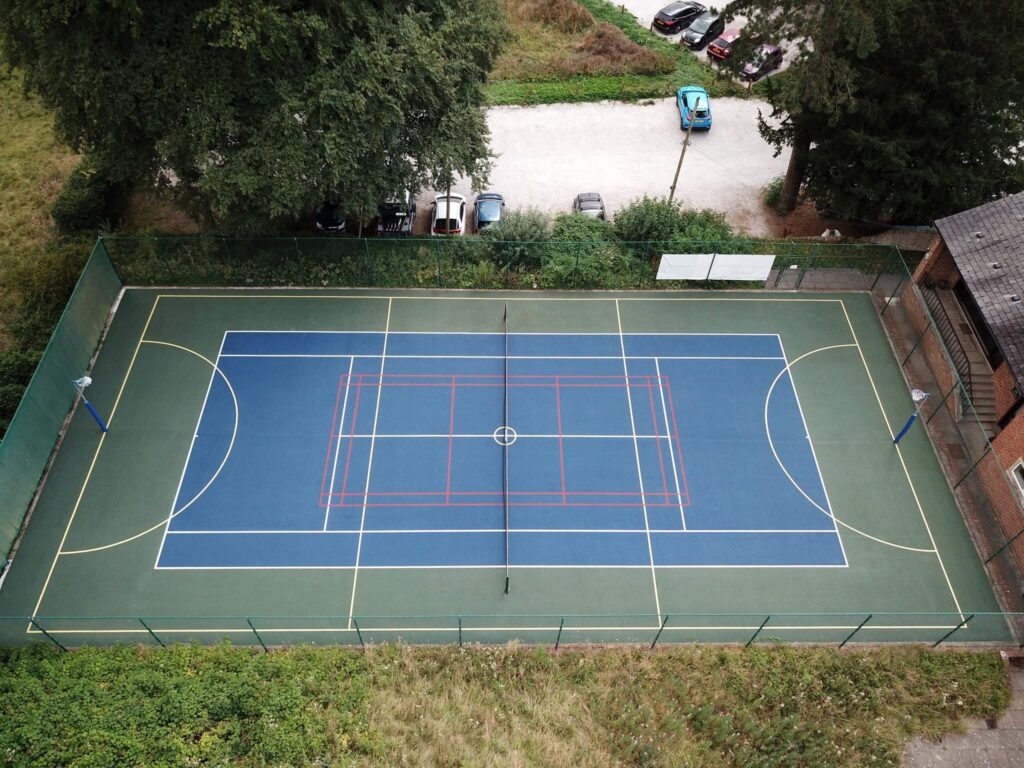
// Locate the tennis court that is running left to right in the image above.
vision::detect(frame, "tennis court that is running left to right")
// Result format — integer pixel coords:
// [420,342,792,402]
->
[0,288,1021,646]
